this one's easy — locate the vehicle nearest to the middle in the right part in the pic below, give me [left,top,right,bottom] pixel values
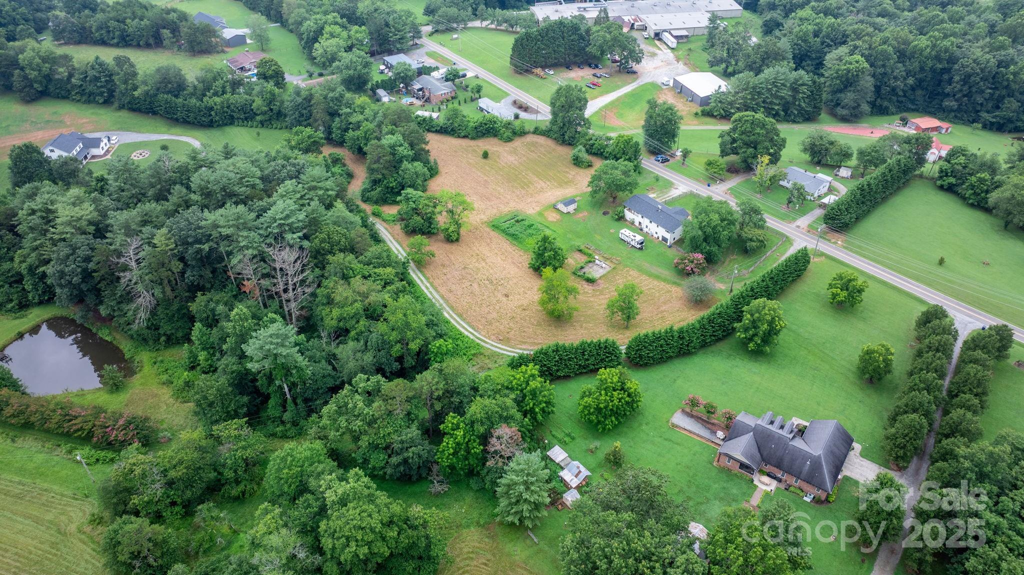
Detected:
[619,229,643,250]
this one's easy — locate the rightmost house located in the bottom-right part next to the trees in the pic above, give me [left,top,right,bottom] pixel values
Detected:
[718,409,854,500]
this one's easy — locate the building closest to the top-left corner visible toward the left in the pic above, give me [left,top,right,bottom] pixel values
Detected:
[38,132,109,167]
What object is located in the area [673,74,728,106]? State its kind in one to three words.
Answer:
building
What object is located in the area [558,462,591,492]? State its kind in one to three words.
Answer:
shed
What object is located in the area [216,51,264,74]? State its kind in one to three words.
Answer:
house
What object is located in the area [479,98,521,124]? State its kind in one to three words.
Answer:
house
